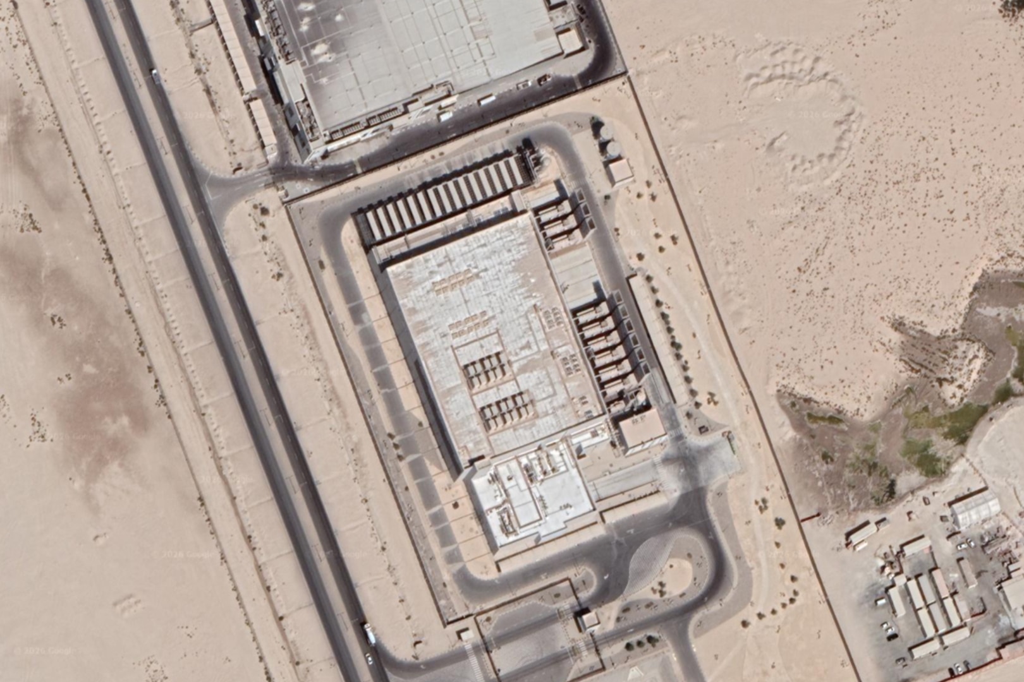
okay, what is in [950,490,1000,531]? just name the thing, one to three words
tent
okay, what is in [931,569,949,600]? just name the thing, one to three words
building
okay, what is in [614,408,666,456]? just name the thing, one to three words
building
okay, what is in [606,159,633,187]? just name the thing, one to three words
shed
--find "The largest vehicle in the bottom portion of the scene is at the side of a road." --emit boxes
[365,624,377,643]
